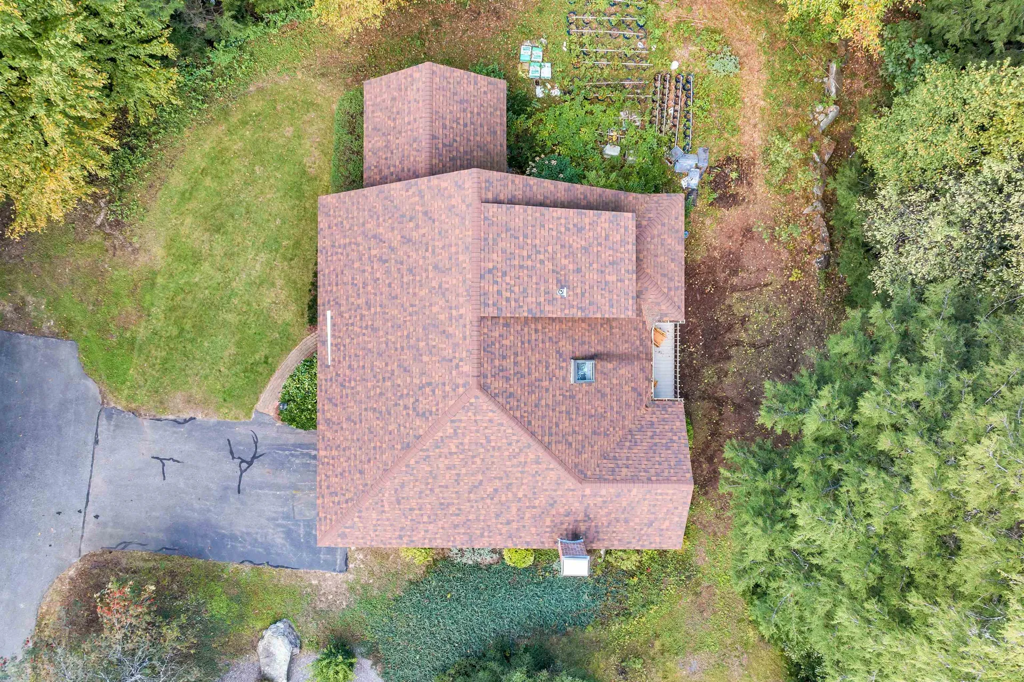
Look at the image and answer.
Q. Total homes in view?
1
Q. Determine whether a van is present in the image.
No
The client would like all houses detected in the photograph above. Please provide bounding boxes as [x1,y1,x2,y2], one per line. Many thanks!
[316,62,696,576]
